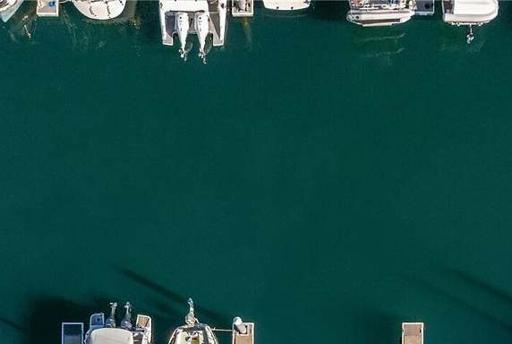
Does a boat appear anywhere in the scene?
Yes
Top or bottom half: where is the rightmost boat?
top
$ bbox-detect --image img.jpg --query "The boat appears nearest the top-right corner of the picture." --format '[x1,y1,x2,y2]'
[441,0,500,45]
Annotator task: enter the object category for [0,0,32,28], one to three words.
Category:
boat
